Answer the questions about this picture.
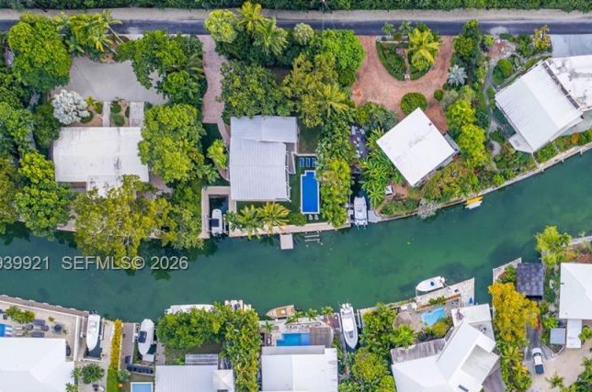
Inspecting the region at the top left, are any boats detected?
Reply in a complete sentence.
No, no boat is visible at the top left.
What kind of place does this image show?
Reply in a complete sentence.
It's a residential area.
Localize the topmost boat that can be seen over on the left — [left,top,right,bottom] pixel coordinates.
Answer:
[208,208,223,237]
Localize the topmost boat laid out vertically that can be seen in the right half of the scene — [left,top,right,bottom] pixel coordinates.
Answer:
[354,197,368,226]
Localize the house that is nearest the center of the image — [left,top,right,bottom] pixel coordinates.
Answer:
[228,115,303,202]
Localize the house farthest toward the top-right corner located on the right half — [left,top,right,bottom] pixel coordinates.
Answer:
[495,54,592,152]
